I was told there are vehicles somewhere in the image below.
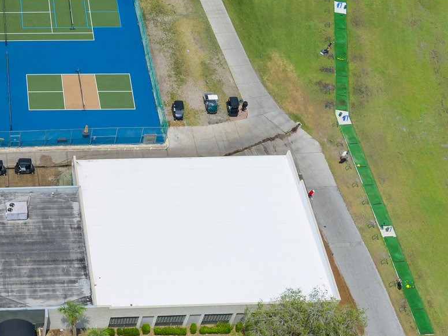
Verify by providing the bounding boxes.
[203,94,218,114]
[225,96,240,117]
[14,157,35,174]
[0,159,7,177]
[171,98,185,120]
